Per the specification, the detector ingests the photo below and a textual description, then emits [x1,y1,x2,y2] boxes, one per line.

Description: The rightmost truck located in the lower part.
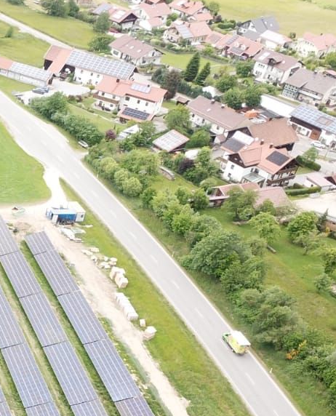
[225,333,254,358]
